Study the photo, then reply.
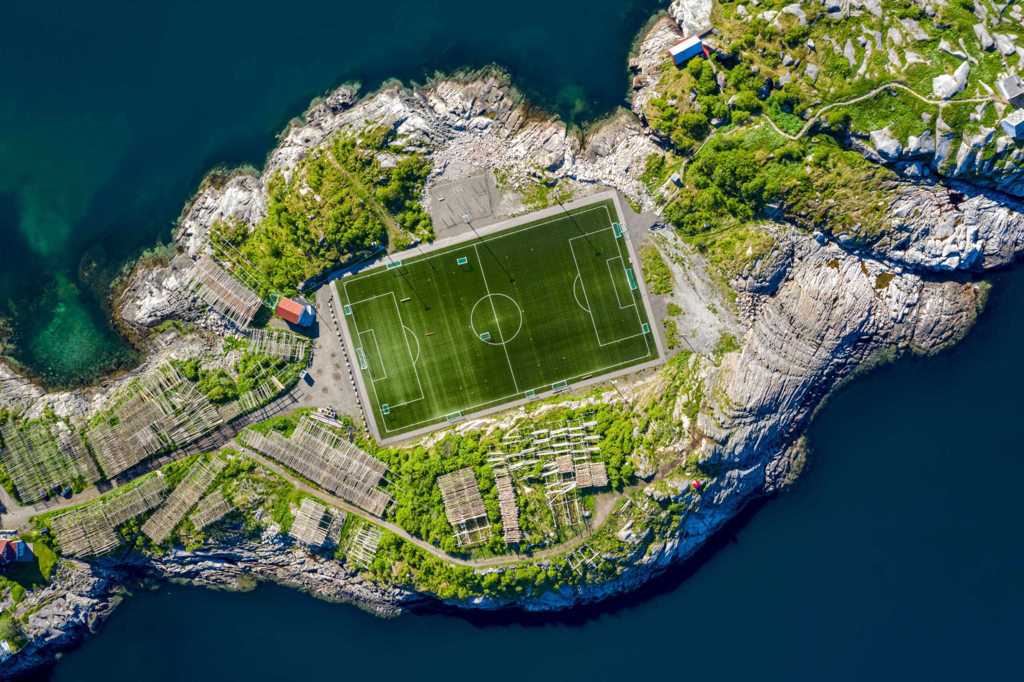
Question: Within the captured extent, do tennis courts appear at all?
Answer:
No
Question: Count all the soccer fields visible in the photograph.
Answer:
1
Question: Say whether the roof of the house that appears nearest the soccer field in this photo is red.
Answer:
Yes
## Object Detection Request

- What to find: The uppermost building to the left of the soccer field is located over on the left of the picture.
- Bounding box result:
[276,296,314,324]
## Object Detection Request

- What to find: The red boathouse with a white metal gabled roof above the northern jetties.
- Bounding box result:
[667,37,707,67]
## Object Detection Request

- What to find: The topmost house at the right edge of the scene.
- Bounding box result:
[992,73,1024,103]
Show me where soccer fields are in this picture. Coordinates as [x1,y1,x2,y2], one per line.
[328,191,666,447]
